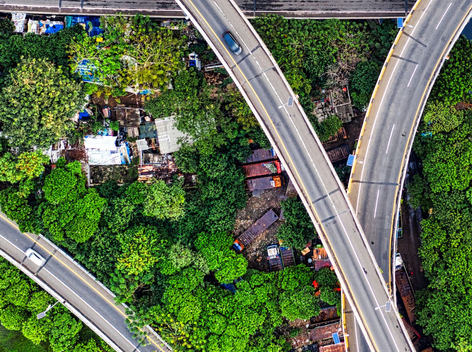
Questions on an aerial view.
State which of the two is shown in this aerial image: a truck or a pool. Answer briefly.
truck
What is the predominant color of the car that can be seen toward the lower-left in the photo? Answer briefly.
white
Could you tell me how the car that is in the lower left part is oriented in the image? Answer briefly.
diagonally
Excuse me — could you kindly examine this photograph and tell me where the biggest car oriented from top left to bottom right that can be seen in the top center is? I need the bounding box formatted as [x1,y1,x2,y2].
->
[222,30,243,55]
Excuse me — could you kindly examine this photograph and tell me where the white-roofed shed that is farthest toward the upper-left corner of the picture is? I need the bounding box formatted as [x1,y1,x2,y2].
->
[11,13,32,32]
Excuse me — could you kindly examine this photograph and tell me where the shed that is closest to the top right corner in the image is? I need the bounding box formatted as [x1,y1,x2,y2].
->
[334,98,355,121]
